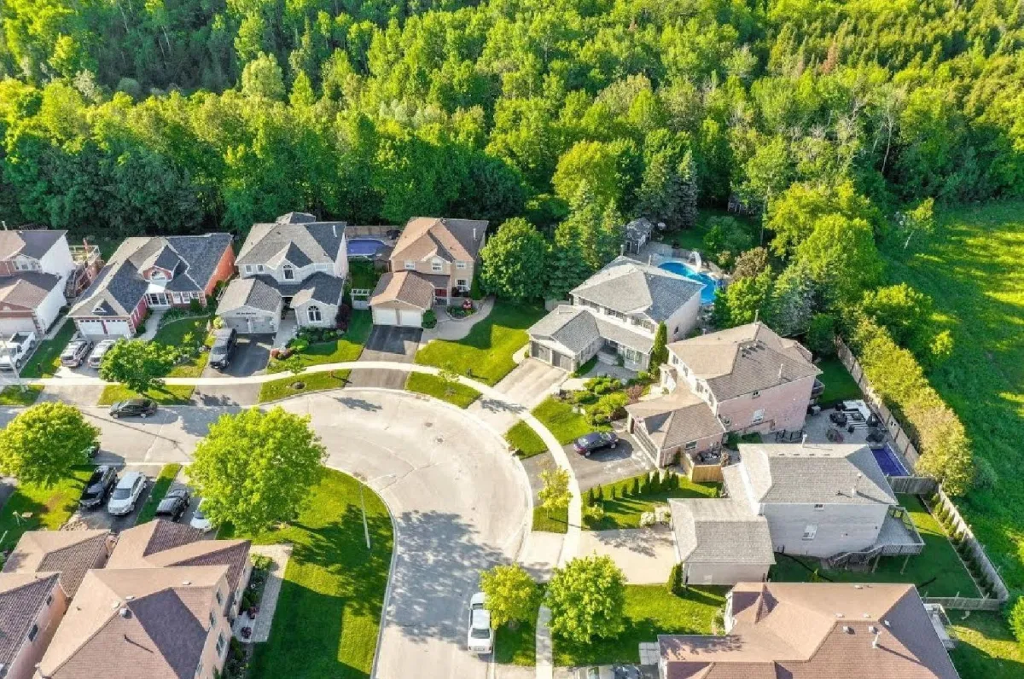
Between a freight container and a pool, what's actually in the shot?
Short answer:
pool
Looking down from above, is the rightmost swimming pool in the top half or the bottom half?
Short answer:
bottom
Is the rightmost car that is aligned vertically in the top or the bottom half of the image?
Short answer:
bottom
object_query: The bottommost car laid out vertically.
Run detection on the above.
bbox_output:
[466,594,493,650]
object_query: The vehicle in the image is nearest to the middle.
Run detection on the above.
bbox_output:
[574,425,624,453]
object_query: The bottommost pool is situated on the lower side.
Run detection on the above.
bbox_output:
[870,445,913,479]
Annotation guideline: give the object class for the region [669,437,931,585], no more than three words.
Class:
house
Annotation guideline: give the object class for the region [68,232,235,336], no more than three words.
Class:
house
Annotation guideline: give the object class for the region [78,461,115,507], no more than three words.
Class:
car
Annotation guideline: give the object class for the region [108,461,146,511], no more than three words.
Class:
car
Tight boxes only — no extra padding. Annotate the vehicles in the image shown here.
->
[58,336,95,364]
[574,425,624,453]
[156,466,199,514]
[107,397,159,418]
[85,336,119,364]
[579,665,647,679]
[78,461,115,507]
[108,461,146,511]
[466,594,493,650]
[209,335,236,366]
[190,481,223,525]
